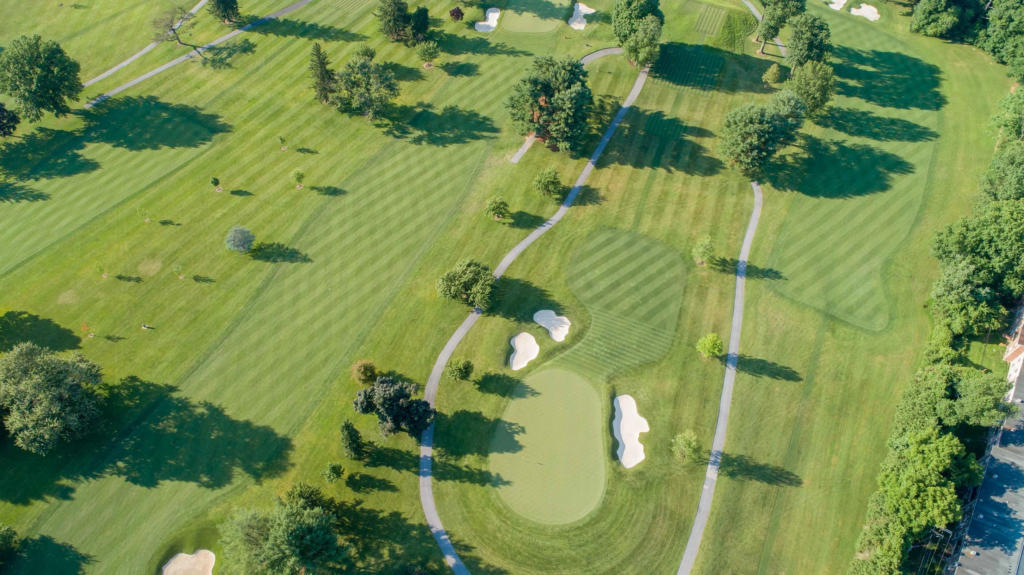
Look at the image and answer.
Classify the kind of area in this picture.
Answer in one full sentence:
This looks like a golf course.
